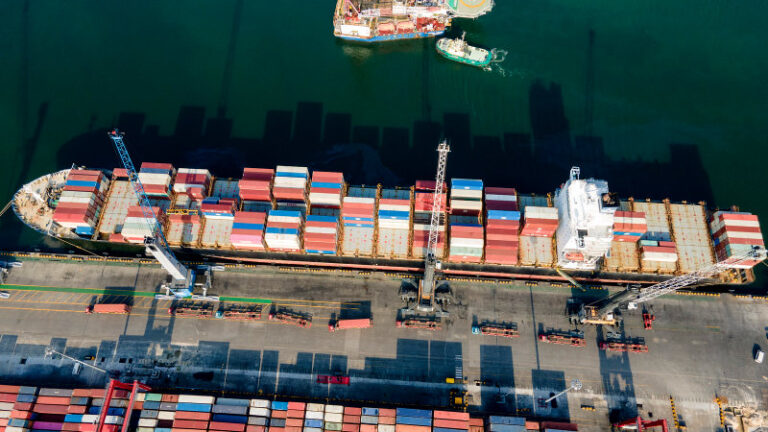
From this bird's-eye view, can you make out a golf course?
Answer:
No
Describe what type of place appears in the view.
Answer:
port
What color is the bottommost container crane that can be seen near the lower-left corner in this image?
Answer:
red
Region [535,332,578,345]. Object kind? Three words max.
vehicle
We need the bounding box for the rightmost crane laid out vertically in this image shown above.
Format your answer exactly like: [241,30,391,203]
[398,136,451,320]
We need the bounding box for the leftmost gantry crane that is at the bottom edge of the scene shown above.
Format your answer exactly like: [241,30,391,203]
[94,378,161,432]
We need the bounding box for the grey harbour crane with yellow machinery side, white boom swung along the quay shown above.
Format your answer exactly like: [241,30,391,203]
[570,240,768,334]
